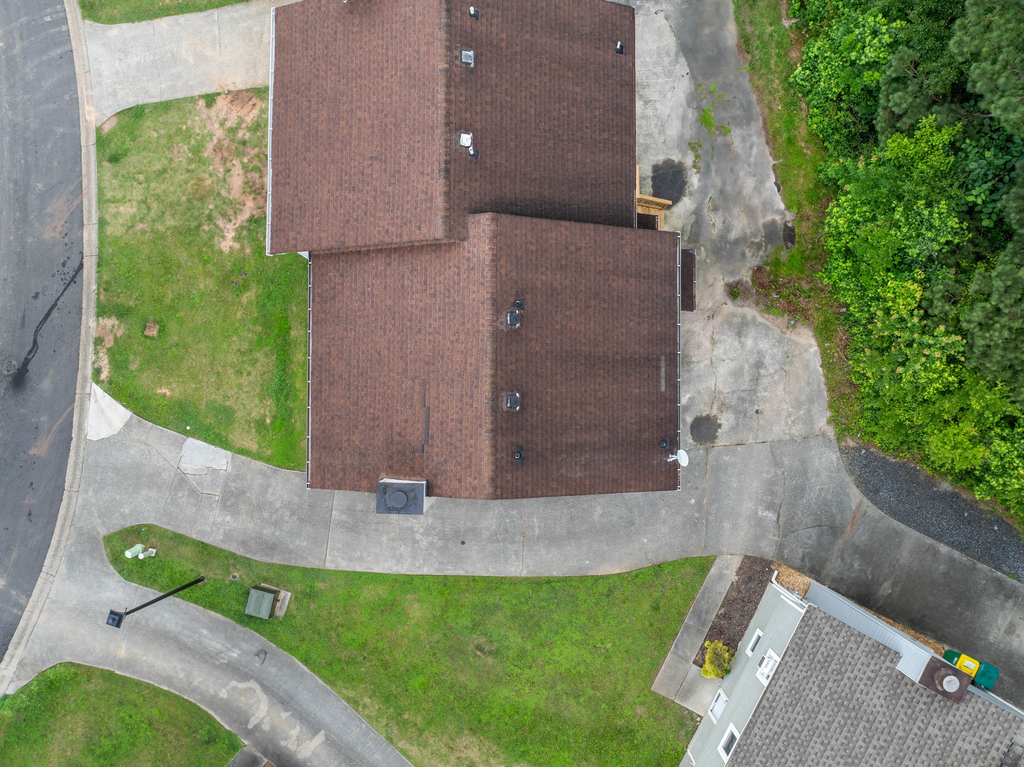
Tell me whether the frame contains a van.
No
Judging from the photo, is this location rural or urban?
urban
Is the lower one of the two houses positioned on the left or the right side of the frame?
right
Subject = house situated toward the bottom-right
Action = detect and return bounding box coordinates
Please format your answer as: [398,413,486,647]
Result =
[672,569,1024,767]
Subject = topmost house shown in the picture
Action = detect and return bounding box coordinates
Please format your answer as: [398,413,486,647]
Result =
[267,0,696,513]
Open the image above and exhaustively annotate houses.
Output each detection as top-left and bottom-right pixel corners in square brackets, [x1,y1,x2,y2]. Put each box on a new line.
[267,0,696,513]
[672,569,1024,767]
